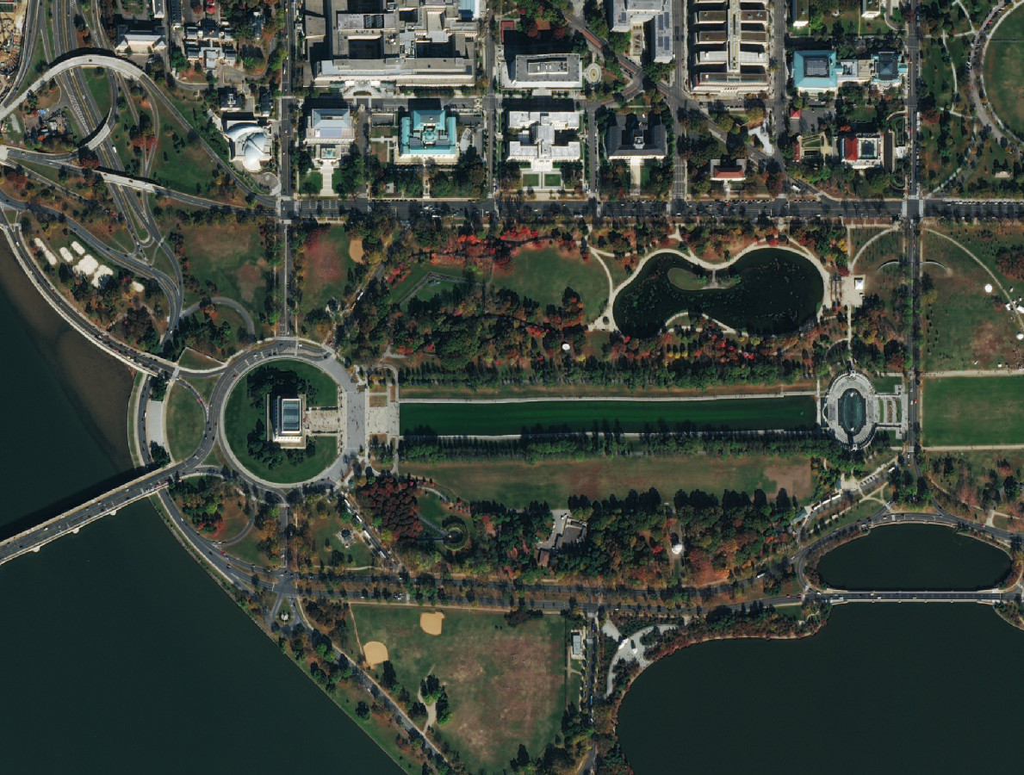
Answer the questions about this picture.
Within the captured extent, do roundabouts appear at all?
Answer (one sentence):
Yes, the picture does show a roundabout.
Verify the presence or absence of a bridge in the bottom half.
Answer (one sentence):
Yes, the scene does show a bridge in the bottom half.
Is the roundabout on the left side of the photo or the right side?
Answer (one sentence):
The roundabout appears in the left half of the scene.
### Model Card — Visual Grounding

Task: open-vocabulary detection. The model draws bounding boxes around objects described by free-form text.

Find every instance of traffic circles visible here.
[208,344,328,496]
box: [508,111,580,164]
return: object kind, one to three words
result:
building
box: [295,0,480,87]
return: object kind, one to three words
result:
building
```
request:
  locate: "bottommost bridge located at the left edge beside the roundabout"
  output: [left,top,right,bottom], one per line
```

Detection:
[0,467,177,570]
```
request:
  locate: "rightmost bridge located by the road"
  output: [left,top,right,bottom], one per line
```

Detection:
[825,587,999,605]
